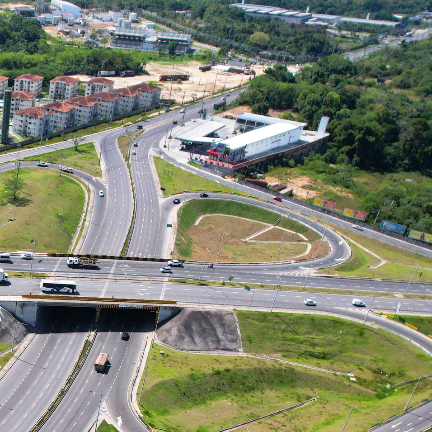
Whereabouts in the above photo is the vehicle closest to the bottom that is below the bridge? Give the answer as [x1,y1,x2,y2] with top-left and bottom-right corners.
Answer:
[95,351,109,371]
